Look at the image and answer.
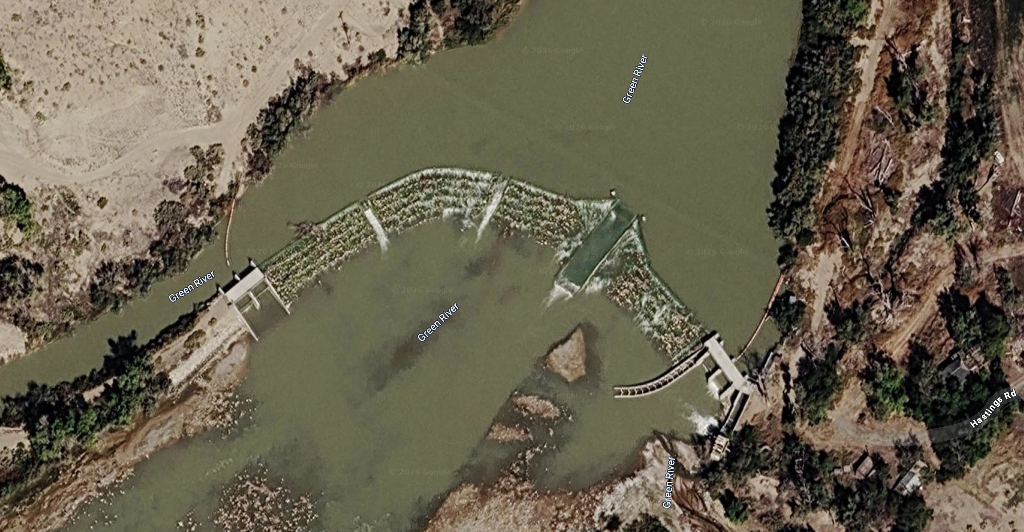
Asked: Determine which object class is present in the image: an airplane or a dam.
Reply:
dam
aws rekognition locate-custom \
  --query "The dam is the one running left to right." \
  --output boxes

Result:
[258,165,706,363]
